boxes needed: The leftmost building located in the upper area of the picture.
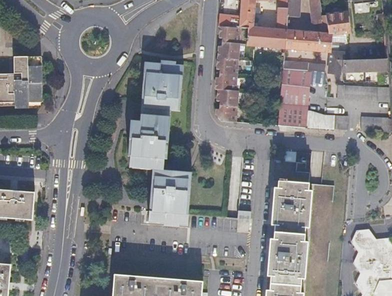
[0,25,42,108]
